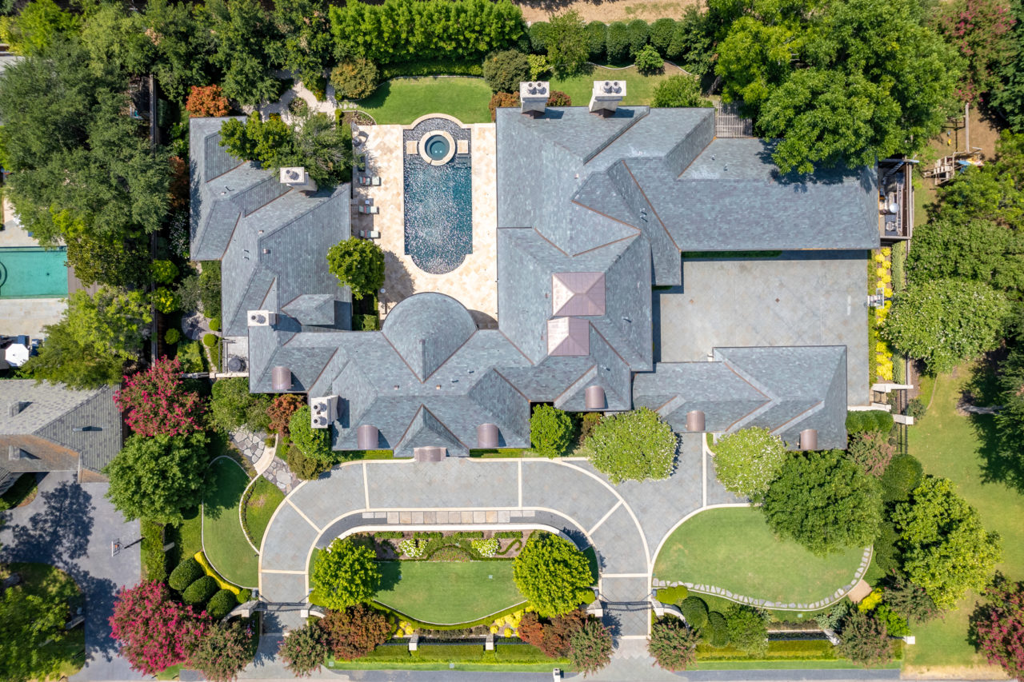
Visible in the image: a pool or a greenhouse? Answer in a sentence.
There is a pool in the scene.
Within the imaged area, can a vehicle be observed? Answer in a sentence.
No, the picture doesn't show any vehicle.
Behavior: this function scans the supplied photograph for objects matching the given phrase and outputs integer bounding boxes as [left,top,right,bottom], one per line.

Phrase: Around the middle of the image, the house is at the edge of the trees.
[189,80,879,462]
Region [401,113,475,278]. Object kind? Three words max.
swimming pool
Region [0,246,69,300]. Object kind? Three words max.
swimming pool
